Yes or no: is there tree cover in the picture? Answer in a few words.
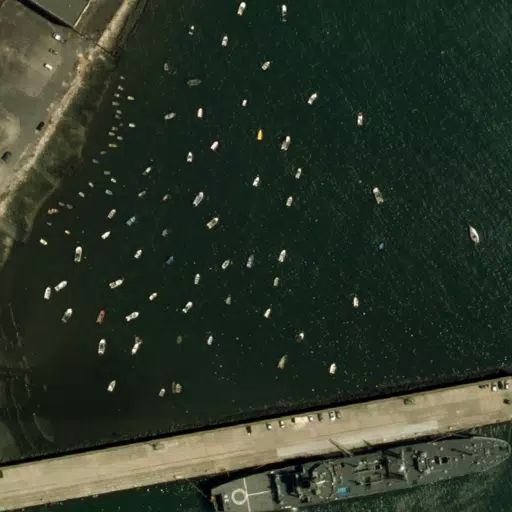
No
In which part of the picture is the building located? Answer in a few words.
top left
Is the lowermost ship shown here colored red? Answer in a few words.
No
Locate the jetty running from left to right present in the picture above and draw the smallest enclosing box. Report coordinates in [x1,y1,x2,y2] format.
[0,376,512,510]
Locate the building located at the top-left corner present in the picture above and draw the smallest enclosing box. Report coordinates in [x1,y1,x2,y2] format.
[31,0,94,28]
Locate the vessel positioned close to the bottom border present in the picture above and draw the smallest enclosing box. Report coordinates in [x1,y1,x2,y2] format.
[209,438,510,512]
